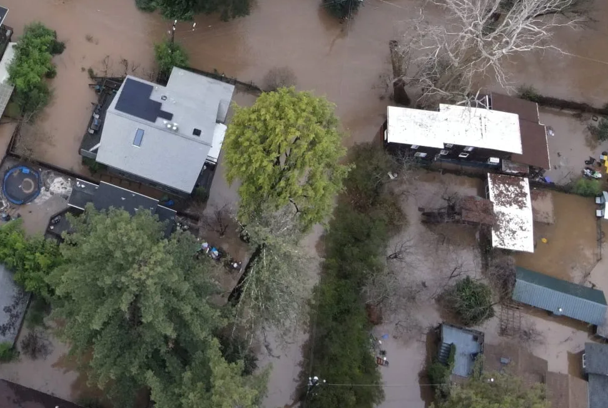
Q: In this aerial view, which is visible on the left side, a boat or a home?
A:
home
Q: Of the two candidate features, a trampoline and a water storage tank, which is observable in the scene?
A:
trampoline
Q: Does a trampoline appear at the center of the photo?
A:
No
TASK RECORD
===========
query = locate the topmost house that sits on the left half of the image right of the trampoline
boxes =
[80,67,235,200]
